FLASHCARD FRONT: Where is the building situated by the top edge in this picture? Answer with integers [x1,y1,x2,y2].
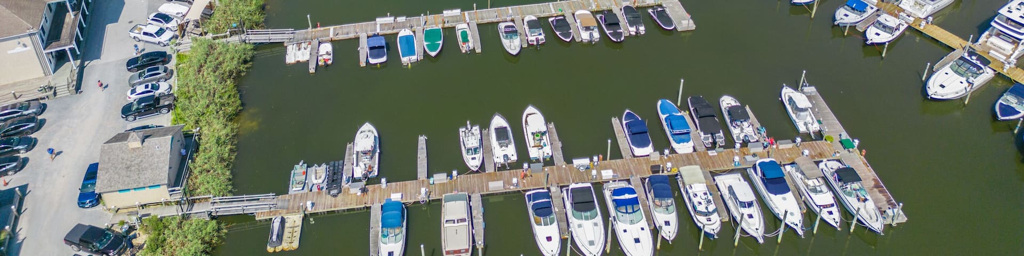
[0,0,94,87]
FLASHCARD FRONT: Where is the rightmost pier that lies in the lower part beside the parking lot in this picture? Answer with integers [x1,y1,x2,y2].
[255,141,843,222]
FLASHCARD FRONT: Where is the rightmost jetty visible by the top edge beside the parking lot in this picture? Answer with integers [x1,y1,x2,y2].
[283,0,668,47]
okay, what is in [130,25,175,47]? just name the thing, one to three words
truck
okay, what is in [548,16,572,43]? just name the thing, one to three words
boat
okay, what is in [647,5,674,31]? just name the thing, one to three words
boat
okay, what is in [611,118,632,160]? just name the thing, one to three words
pier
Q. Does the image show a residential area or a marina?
marina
